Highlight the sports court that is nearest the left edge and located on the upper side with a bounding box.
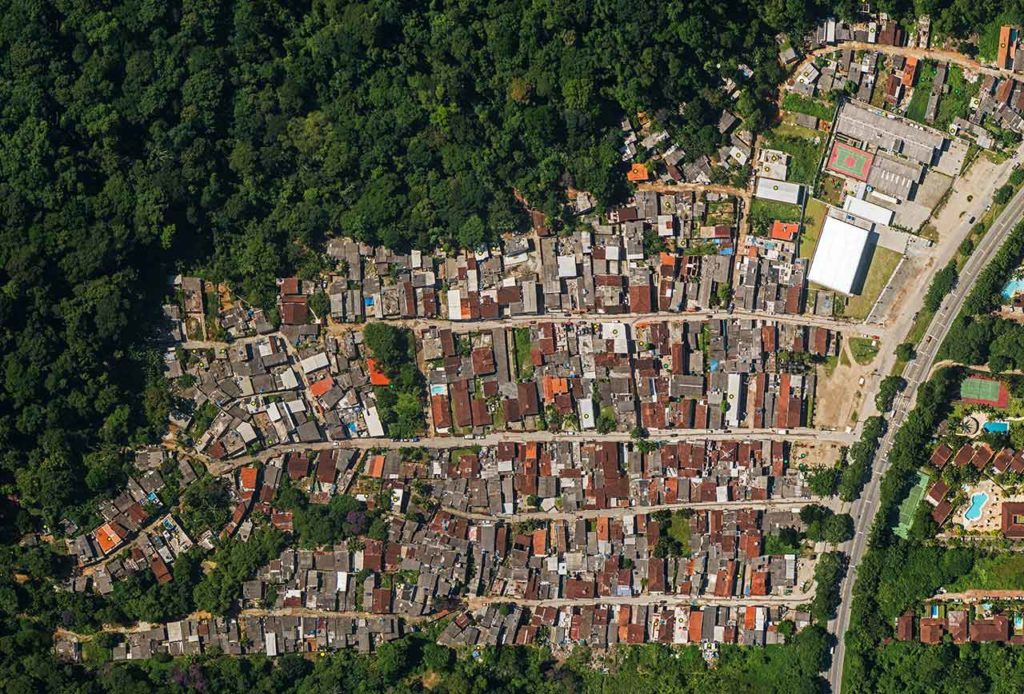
[828,141,871,179]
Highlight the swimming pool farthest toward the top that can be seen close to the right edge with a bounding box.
[1001,279,1024,299]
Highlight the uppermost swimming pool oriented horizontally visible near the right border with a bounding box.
[982,421,1011,434]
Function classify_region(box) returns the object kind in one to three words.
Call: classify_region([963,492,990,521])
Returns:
swimming pool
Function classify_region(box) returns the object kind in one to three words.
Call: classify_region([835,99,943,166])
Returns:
building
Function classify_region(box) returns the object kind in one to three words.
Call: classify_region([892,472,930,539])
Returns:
tennis court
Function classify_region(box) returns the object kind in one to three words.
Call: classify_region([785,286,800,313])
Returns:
house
